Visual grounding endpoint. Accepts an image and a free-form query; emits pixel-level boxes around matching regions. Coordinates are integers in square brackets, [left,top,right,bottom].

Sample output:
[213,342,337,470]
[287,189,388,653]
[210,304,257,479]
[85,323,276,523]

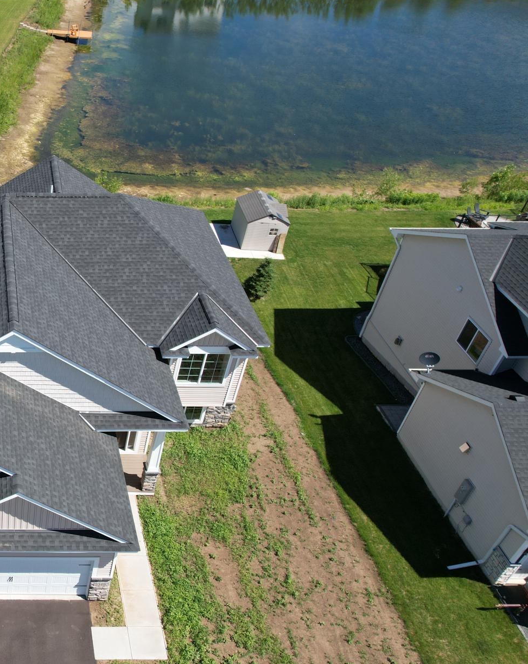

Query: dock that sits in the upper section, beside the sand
[50,19,95,43]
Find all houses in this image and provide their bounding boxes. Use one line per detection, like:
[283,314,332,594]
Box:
[0,154,271,602]
[359,208,528,598]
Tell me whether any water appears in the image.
Yes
